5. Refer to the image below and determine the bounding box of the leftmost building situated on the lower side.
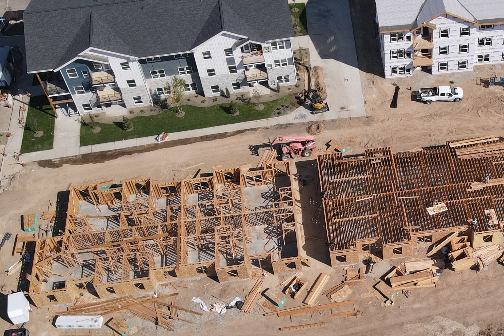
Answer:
[27,160,303,308]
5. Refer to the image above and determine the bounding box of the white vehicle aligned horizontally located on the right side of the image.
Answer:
[417,83,463,103]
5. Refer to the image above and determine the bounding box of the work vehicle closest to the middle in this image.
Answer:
[258,135,316,161]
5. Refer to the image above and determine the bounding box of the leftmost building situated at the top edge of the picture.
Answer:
[20,0,298,120]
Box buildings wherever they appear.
[316,137,504,267]
[20,0,298,120]
[27,160,303,308]
[372,0,504,79]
